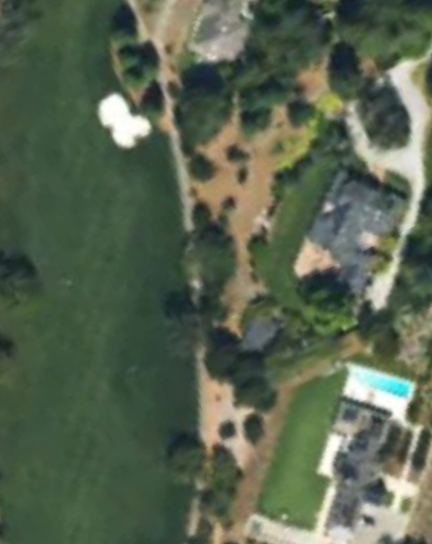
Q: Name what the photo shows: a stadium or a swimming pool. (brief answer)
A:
swimming pool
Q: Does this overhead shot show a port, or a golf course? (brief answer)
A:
golf course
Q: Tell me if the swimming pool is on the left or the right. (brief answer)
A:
right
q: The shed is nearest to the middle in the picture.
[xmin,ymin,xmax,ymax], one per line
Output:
[242,318,279,352]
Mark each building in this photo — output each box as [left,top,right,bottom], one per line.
[301,170,409,299]
[326,392,396,541]
[242,318,279,352]
[197,0,247,62]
